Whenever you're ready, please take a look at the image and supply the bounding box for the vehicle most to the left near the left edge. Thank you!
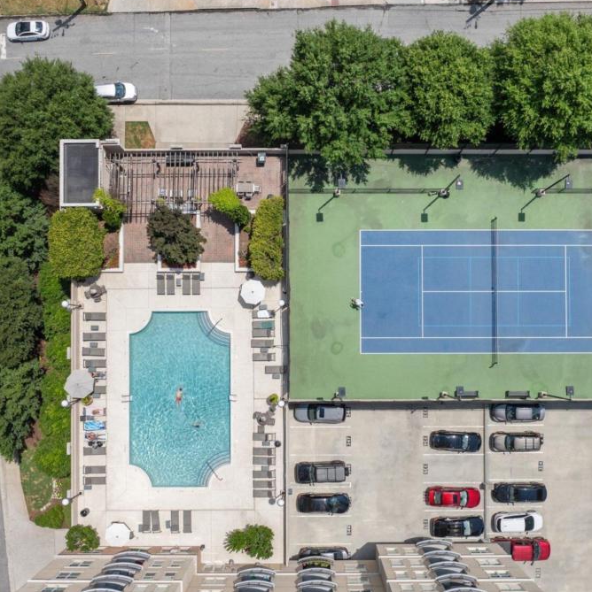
[7,18,52,43]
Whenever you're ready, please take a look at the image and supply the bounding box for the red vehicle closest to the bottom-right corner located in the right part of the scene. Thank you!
[484,538,548,566]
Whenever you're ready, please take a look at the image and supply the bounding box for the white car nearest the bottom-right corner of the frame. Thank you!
[491,511,542,537]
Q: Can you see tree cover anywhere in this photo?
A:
Yes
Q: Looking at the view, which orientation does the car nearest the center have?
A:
from side to side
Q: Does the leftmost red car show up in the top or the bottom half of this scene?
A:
bottom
